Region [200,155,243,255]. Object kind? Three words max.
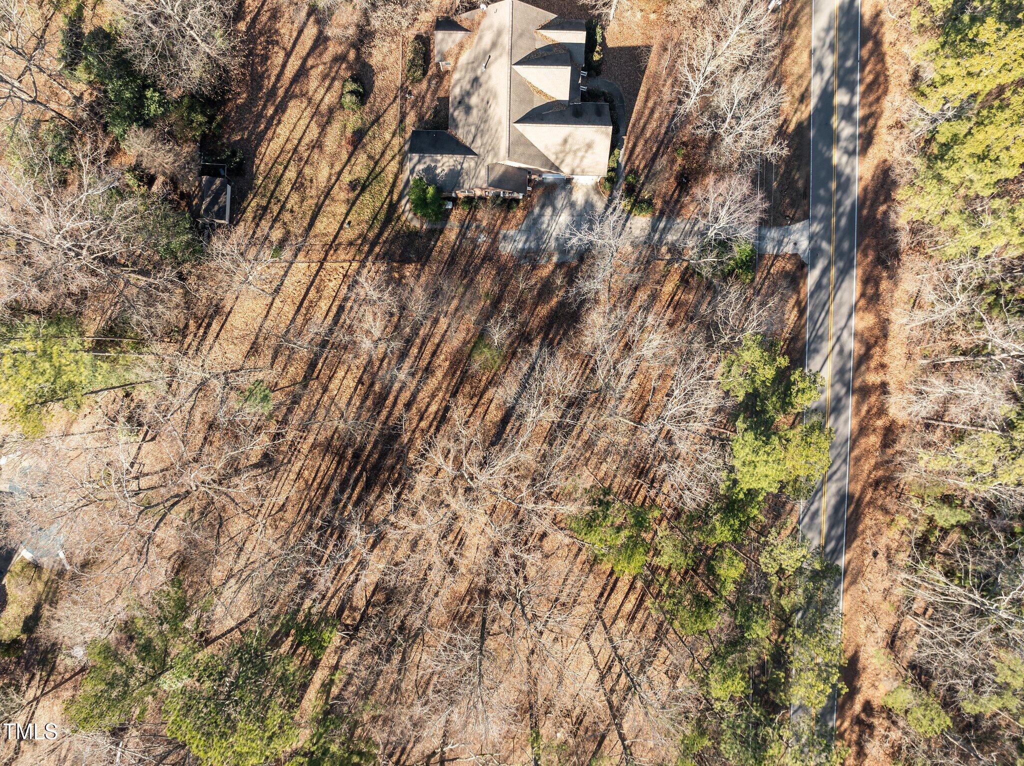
shed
